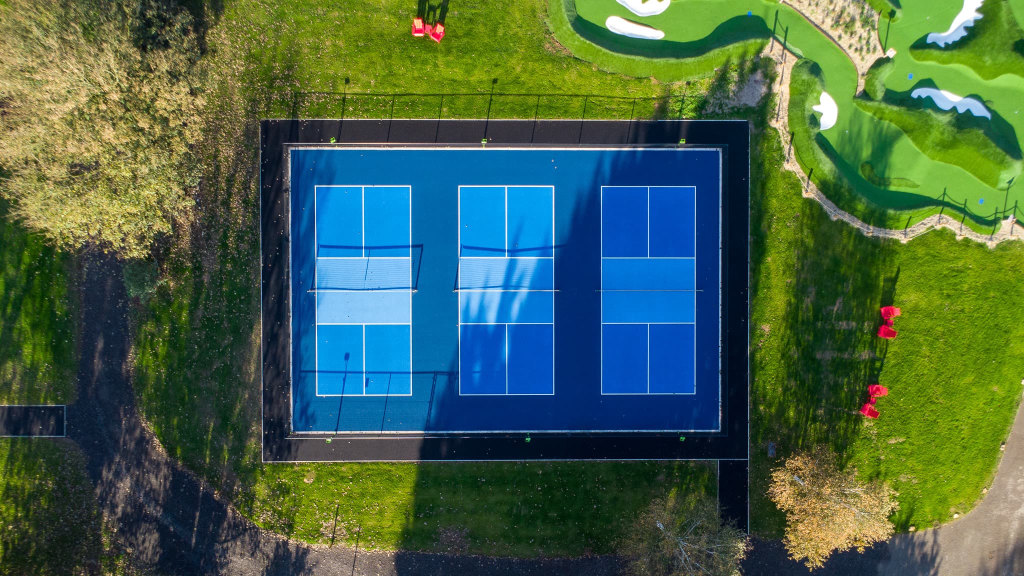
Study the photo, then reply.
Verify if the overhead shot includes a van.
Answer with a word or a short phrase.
No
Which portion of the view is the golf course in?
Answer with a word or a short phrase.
top right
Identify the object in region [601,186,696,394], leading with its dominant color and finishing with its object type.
blue sports court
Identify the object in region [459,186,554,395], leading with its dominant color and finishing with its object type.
blue sports court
